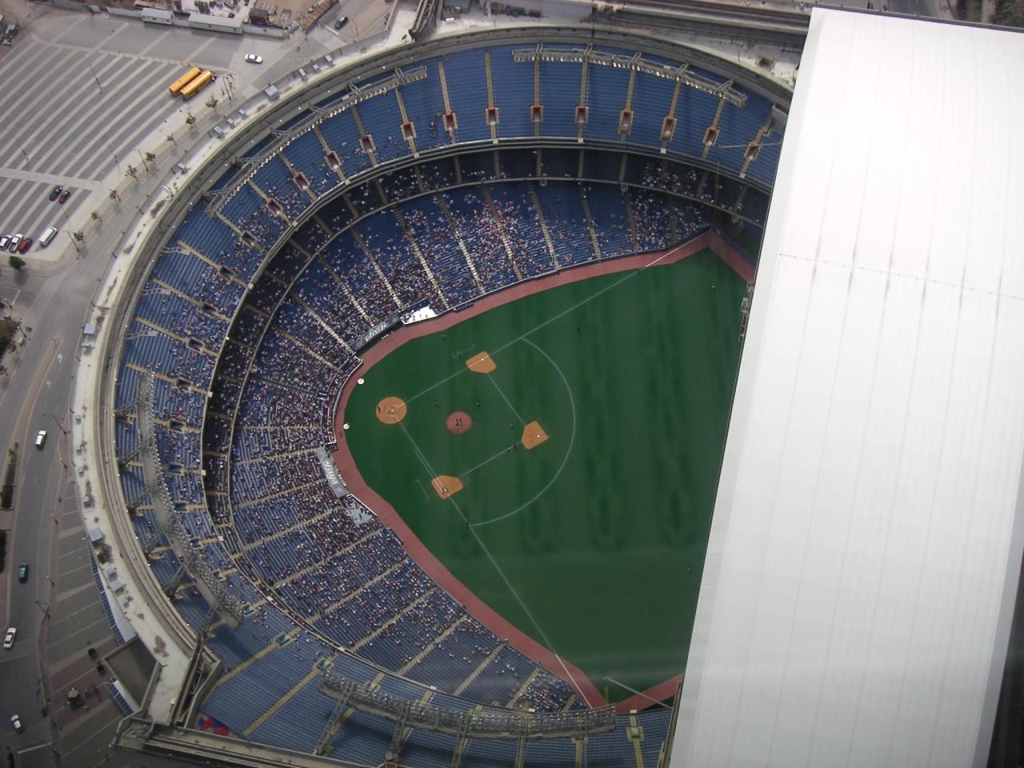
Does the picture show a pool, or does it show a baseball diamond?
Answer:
baseball diamond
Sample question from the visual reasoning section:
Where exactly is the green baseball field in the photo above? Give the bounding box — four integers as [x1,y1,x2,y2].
[331,233,754,704]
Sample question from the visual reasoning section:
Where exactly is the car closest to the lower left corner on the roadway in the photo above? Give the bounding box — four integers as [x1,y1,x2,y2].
[10,713,23,731]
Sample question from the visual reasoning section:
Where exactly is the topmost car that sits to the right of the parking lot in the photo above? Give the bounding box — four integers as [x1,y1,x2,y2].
[333,16,348,28]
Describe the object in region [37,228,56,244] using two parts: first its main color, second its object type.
white vehicle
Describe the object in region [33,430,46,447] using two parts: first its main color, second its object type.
white vehicle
